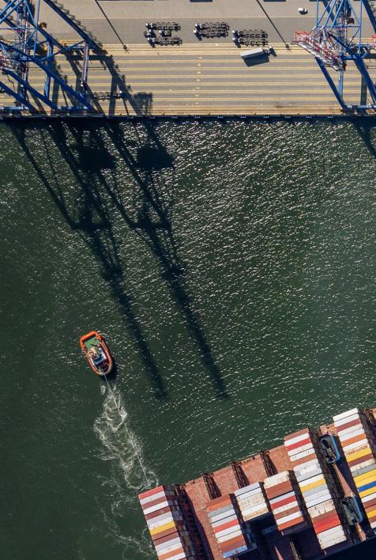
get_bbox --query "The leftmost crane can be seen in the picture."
[0,12,53,109]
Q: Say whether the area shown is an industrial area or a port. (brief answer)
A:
port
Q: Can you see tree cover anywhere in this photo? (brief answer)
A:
No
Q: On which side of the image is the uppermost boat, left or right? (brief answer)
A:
left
